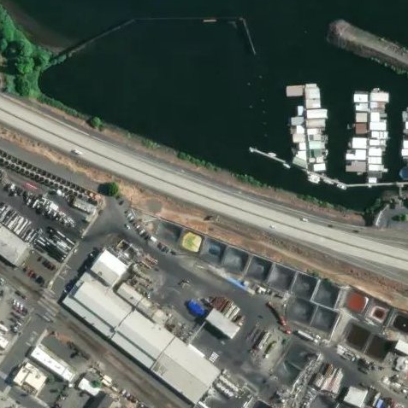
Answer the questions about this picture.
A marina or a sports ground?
marina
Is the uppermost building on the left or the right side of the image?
left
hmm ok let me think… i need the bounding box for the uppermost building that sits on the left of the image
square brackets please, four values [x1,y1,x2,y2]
[0,227,28,267]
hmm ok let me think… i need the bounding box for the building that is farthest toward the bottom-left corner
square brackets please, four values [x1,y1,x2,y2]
[13,363,45,392]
